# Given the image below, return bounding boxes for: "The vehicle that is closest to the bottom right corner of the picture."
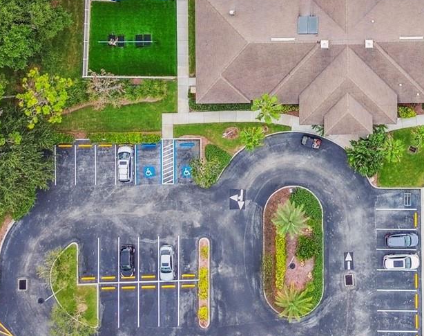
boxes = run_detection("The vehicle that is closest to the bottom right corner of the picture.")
[383,255,419,273]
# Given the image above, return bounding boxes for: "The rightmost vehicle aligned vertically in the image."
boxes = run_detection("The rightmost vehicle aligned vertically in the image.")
[156,245,174,281]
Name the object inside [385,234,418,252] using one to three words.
car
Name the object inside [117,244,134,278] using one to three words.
car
